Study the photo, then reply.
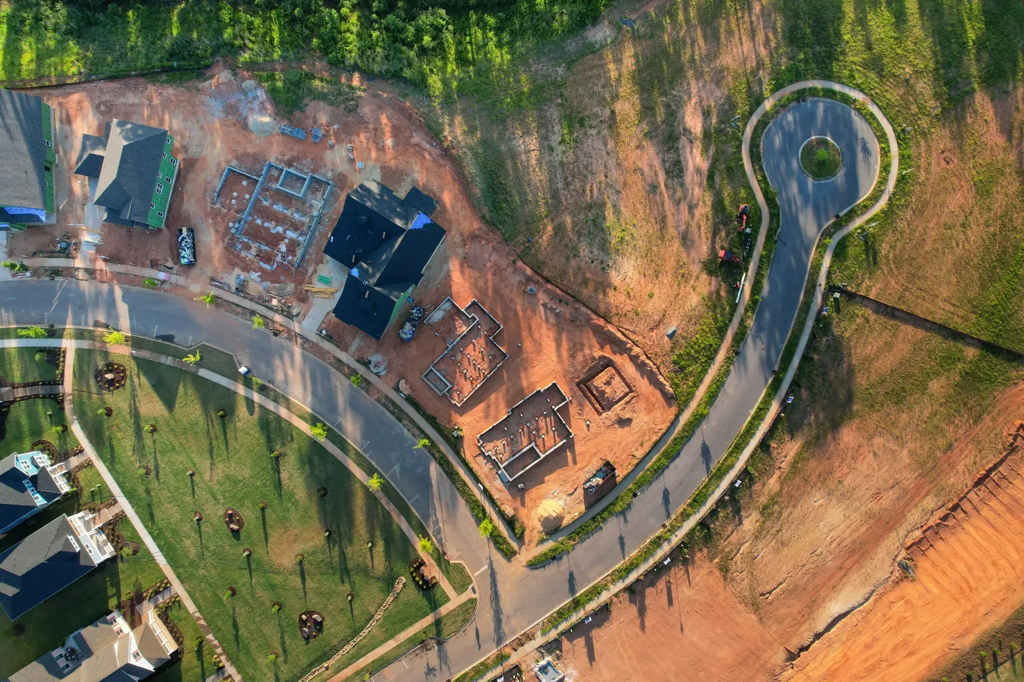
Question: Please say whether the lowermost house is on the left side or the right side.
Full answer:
You can find the lowermost house on the left side of the picture.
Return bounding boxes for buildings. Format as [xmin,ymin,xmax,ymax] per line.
[0,451,75,533]
[5,608,178,682]
[0,506,117,624]
[74,118,181,230]
[324,179,446,340]
[0,90,59,230]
